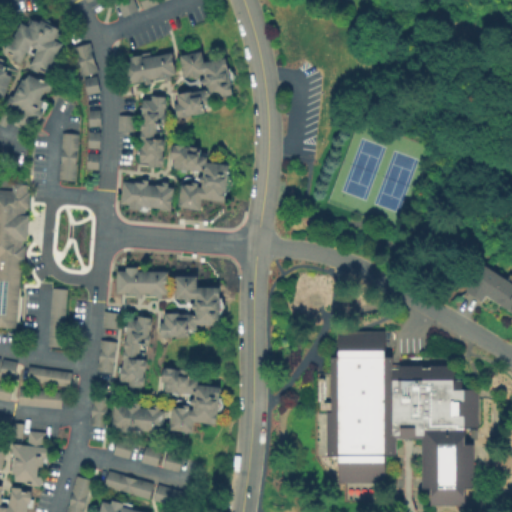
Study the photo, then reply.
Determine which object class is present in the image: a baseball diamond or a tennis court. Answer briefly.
tennis court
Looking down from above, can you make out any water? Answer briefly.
No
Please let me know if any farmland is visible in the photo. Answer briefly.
No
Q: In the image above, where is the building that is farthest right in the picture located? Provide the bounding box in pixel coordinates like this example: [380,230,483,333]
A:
[472,268,512,311]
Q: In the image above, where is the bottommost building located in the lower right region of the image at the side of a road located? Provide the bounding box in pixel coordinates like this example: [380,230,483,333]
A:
[332,332,478,506]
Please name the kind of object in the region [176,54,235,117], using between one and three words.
building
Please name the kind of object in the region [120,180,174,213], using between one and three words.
building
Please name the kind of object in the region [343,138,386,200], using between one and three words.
tennis court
